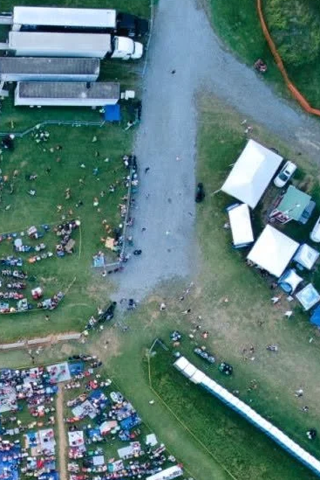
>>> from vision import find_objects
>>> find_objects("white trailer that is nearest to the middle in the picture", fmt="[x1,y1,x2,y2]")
[222,204,254,254]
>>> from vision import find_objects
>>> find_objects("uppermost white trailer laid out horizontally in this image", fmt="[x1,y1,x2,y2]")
[10,9,116,37]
